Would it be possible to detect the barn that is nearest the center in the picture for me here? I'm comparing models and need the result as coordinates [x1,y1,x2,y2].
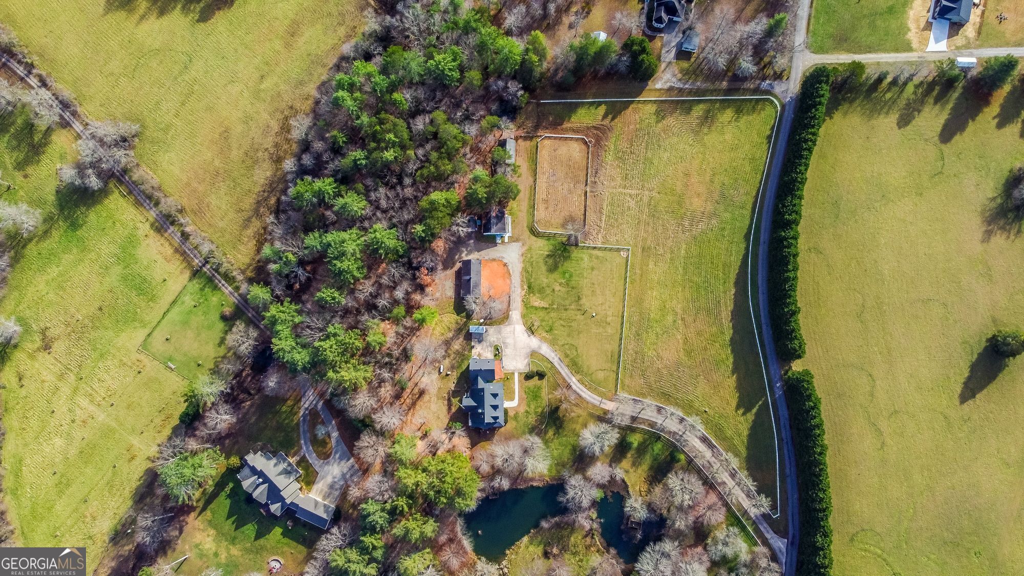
[461,259,482,297]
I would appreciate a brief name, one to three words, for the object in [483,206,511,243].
house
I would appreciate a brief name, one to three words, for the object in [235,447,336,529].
house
